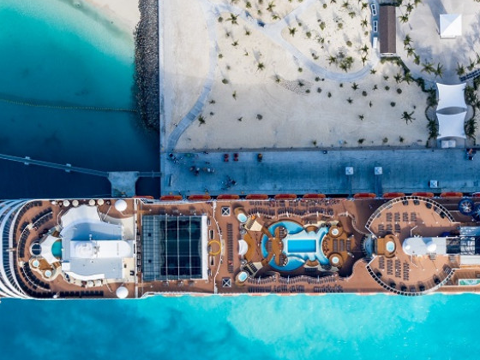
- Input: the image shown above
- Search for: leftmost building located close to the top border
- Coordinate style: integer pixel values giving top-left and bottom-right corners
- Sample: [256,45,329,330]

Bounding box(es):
[379,4,397,56]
